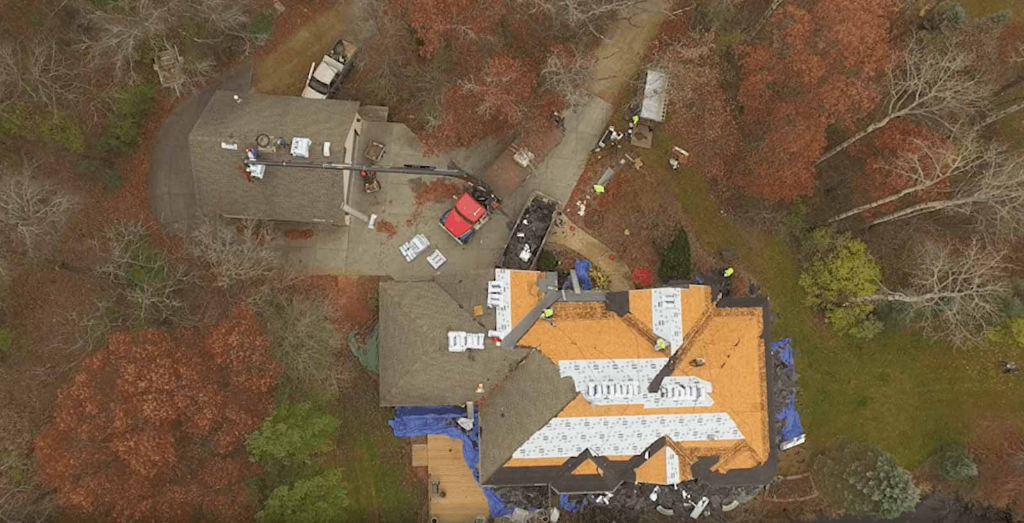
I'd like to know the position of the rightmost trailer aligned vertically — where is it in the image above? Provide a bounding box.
[634,66,667,155]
